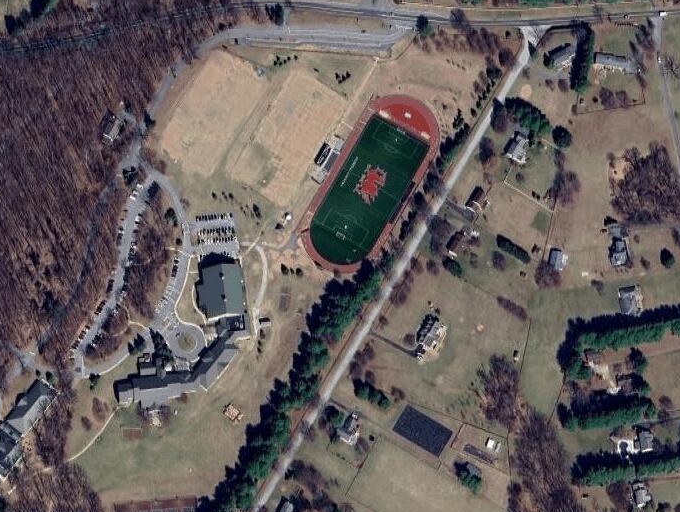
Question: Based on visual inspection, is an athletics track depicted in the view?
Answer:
Yes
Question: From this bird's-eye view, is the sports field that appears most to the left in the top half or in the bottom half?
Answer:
top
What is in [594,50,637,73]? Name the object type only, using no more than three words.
house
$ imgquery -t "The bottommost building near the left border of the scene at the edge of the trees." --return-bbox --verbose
[0,378,61,482]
